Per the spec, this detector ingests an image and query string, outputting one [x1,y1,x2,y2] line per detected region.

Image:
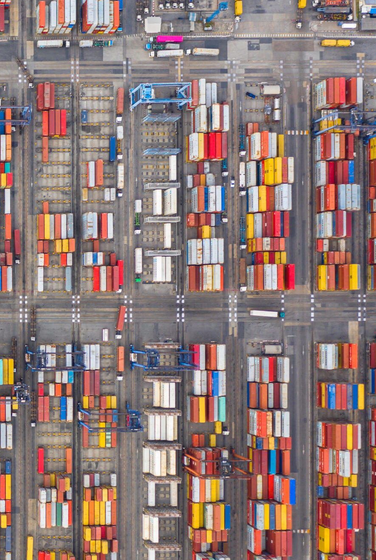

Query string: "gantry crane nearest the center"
[128,346,193,373]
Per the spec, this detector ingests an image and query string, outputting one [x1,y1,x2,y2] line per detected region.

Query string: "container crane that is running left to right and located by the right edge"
[308,108,376,139]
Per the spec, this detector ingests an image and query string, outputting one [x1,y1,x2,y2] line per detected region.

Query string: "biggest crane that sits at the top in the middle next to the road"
[127,81,192,114]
